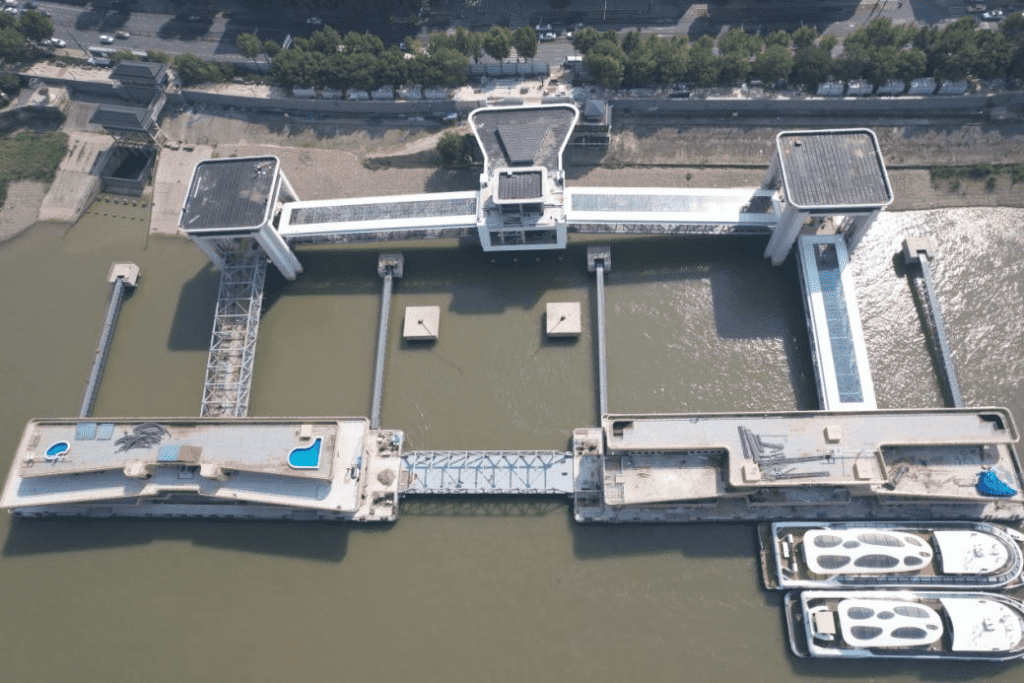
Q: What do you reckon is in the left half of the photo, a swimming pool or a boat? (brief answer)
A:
swimming pool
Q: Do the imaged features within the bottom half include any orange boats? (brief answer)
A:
No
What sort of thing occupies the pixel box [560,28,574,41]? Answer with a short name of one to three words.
vehicle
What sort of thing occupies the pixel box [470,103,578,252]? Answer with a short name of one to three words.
building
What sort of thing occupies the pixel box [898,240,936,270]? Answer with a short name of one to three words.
pier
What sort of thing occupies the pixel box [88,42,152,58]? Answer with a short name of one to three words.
vehicle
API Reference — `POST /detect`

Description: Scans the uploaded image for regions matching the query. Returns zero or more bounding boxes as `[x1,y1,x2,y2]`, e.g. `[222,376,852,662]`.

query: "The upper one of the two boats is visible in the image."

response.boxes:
[759,521,1024,590]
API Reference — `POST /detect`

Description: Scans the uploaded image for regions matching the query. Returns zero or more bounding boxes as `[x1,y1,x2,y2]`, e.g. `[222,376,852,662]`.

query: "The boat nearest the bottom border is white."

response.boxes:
[787,591,1024,658]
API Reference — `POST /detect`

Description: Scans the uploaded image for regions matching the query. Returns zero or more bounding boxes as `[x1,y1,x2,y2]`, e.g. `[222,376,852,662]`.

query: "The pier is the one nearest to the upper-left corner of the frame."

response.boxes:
[106,264,146,294]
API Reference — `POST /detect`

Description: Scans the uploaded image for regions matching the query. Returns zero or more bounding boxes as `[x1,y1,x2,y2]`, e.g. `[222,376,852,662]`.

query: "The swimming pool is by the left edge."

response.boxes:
[44,440,72,460]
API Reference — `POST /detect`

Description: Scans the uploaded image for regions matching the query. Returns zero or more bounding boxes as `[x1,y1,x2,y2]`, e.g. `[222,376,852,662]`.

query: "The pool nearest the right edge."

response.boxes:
[287,436,324,471]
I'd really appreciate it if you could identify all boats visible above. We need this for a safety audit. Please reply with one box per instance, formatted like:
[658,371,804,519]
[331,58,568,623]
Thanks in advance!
[787,591,1024,658]
[759,521,1024,590]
